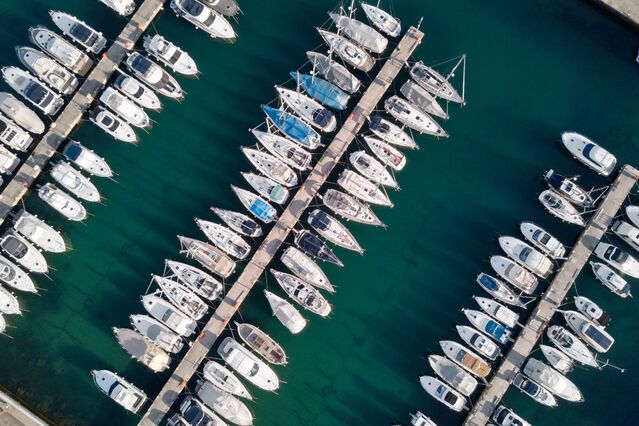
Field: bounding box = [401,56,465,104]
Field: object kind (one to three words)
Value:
boat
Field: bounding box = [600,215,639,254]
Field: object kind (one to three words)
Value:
boat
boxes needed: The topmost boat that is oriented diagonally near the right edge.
[559,133,623,179]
